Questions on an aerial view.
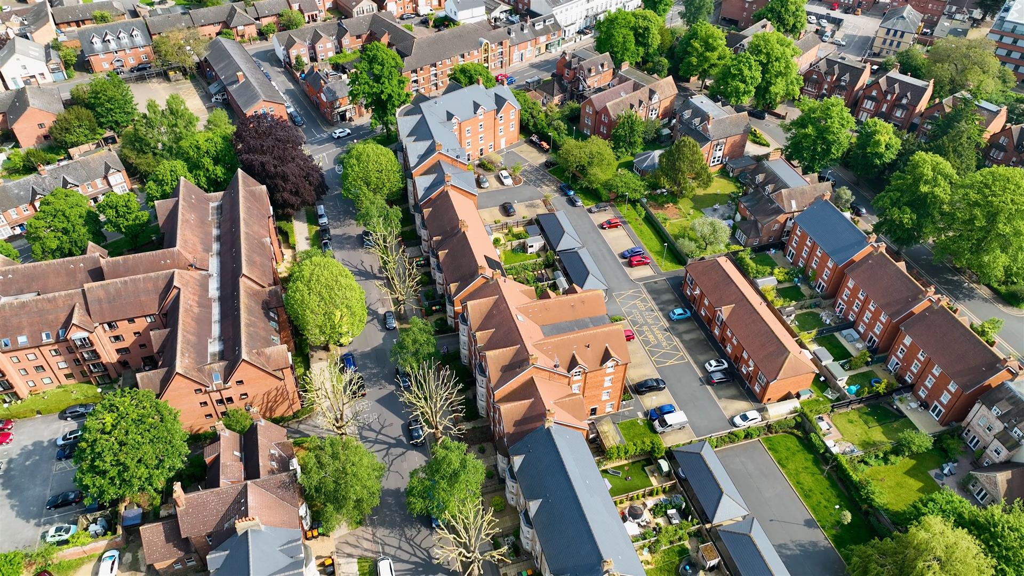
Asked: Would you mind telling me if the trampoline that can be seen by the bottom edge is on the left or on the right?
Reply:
right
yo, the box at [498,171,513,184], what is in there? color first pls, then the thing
white vehicle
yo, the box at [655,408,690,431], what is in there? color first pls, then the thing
white vehicle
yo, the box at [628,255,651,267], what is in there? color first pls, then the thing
red vehicle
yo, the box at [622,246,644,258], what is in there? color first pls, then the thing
blue vehicle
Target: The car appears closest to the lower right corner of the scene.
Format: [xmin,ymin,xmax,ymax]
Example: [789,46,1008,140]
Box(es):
[732,410,762,428]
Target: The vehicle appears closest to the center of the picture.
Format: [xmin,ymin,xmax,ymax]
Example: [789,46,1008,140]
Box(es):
[503,204,517,217]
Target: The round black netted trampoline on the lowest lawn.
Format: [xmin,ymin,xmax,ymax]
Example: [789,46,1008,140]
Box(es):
[676,552,704,576]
